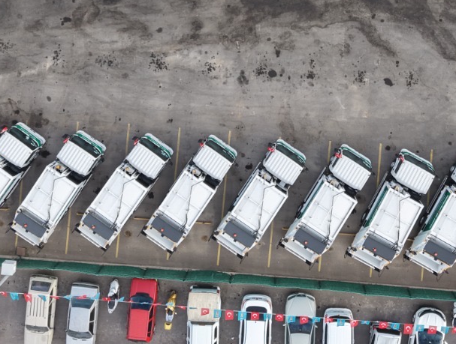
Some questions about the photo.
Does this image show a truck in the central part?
Yes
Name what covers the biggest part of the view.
paved ground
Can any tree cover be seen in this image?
No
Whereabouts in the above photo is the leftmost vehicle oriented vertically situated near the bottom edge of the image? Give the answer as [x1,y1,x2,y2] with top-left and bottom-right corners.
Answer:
[21,275,61,344]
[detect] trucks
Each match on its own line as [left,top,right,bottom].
[72,131,176,256]
[278,143,377,268]
[6,128,109,255]
[403,165,456,278]
[210,139,311,264]
[137,133,239,259]
[0,119,49,207]
[343,150,440,275]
